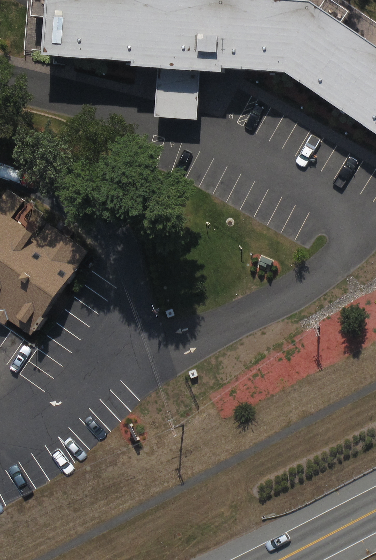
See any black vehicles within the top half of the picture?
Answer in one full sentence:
Yes, a black vehicle shows up within the top half of the picture.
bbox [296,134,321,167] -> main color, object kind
white truck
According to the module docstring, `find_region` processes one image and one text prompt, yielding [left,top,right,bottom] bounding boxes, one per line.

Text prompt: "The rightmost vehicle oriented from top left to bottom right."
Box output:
[84,414,107,443]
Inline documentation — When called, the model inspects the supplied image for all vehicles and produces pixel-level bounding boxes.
[264,532,292,553]
[84,414,107,443]
[244,102,266,132]
[9,345,30,375]
[334,155,358,189]
[296,134,321,167]
[65,435,87,463]
[9,463,33,500]
[174,148,192,177]
[52,446,75,476]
